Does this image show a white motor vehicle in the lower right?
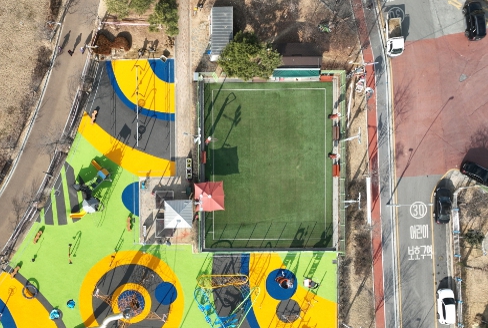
Yes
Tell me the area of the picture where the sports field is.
center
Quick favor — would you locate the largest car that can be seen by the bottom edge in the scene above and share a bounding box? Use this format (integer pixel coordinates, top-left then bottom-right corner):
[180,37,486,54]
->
[437,290,458,325]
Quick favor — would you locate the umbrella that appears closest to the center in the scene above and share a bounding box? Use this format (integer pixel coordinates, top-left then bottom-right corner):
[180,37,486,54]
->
[194,181,225,212]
